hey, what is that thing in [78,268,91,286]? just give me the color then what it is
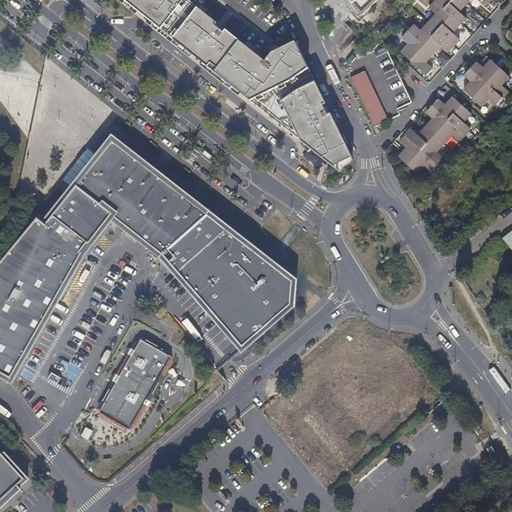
white vehicle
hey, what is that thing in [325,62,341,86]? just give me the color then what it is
white vehicle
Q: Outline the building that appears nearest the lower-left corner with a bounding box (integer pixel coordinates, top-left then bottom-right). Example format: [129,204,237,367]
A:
[0,445,30,510]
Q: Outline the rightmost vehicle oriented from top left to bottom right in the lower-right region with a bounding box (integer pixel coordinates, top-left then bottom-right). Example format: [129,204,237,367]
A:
[488,364,512,396]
